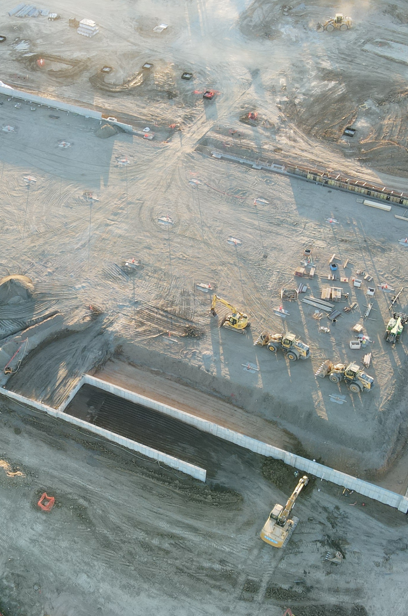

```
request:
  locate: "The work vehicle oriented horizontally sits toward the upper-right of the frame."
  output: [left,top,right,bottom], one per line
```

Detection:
[315,14,359,31]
